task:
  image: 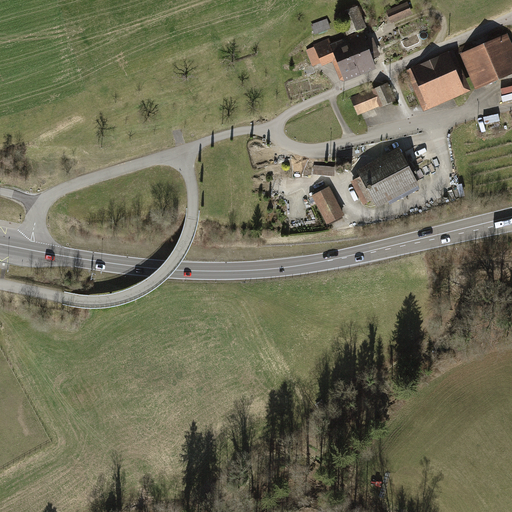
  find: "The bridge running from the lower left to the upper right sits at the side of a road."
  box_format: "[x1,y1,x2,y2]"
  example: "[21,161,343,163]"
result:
[57,206,200,308]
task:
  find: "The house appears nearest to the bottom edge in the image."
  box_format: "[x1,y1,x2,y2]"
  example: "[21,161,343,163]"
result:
[312,186,344,224]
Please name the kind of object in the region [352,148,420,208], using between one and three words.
building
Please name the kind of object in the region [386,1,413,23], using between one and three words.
shed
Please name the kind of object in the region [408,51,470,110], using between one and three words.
barn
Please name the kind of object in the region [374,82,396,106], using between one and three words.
house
